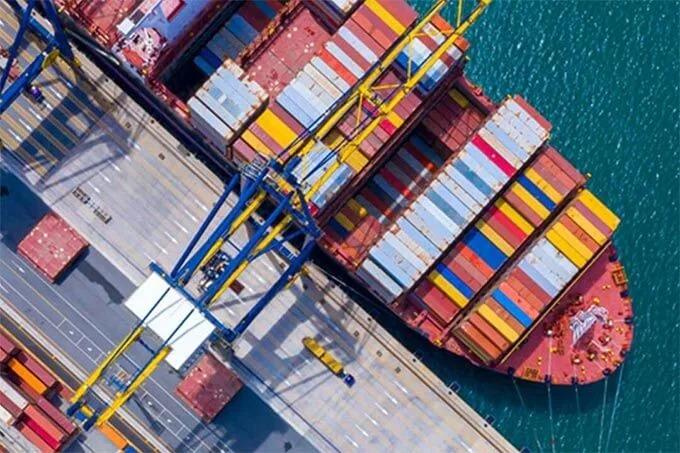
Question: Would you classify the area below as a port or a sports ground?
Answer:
port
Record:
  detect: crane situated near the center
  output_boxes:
[60,0,491,437]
